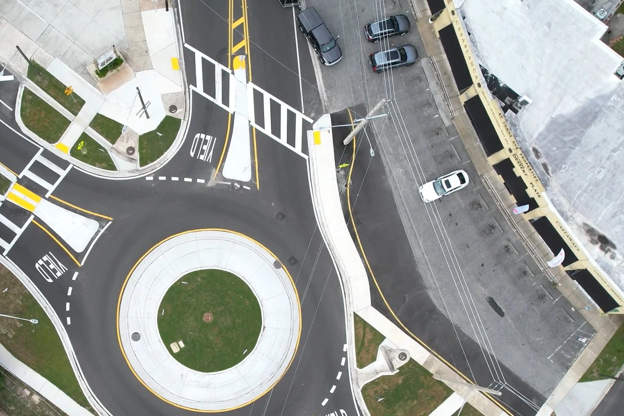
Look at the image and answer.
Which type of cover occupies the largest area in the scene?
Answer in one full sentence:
For the most part, this view shows paved ground.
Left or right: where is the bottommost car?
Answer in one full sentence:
It is on the right.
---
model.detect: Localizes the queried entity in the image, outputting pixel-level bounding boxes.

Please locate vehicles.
[368,45,419,74]
[417,170,472,201]
[295,5,342,69]
[279,0,301,10]
[363,14,412,44]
